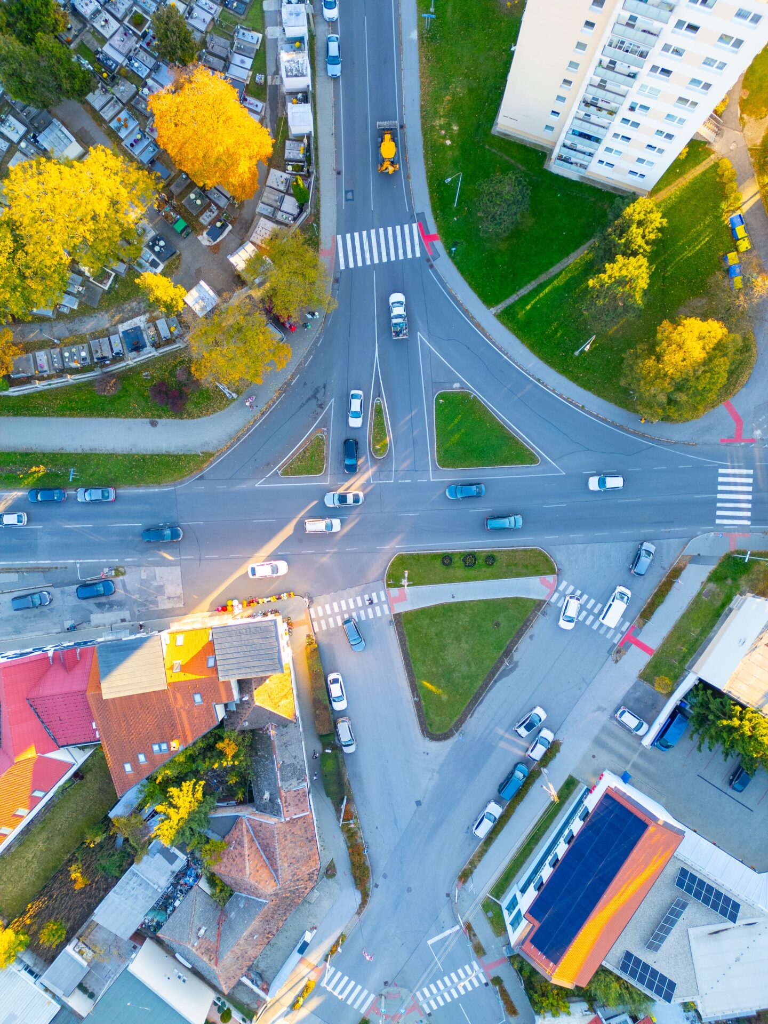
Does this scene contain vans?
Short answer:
Yes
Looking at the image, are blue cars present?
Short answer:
Yes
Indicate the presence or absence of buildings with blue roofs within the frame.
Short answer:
Yes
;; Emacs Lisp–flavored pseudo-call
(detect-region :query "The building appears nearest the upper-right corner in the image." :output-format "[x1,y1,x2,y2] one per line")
[488,0,768,204]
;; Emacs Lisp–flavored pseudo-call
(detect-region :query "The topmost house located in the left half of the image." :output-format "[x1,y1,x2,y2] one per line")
[282,3,307,42]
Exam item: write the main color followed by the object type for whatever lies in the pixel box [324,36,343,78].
blue car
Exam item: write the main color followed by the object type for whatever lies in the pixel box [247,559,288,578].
white car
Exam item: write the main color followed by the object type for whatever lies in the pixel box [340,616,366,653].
blue car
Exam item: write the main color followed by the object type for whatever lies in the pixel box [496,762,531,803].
blue vehicle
